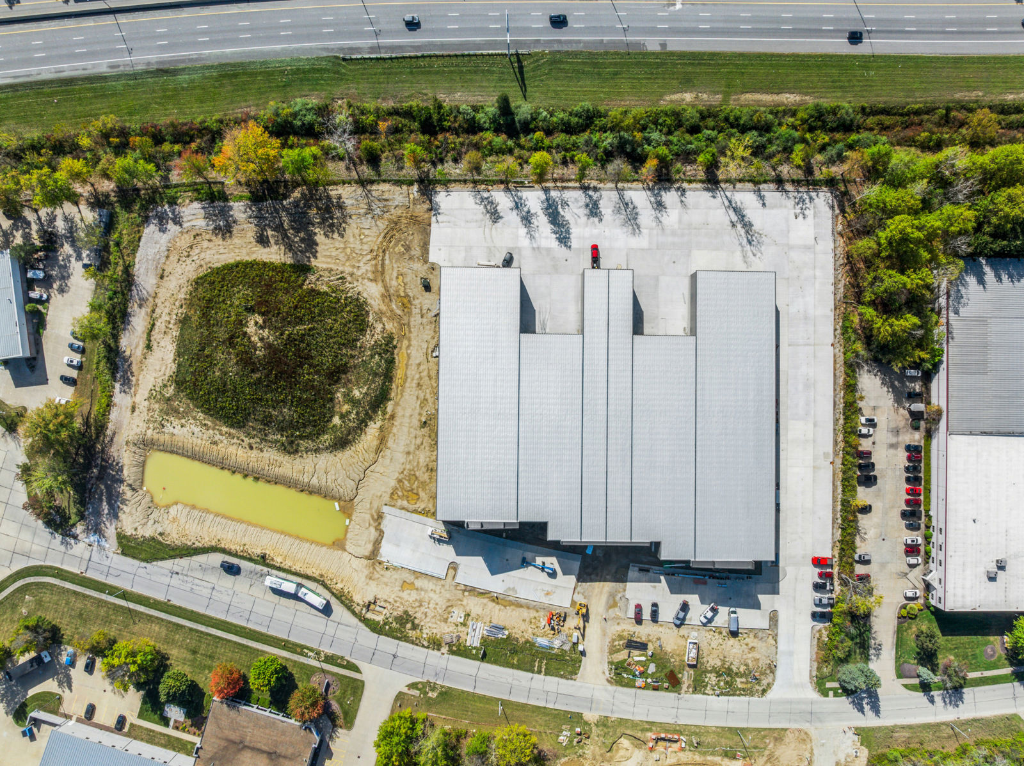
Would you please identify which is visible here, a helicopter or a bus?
bus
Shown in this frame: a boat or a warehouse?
warehouse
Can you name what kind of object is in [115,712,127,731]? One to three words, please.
vehicle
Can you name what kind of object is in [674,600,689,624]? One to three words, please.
vehicle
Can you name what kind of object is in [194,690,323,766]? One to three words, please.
building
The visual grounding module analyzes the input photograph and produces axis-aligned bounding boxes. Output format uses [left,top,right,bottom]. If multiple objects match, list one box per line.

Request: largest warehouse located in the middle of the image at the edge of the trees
[436,267,776,571]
